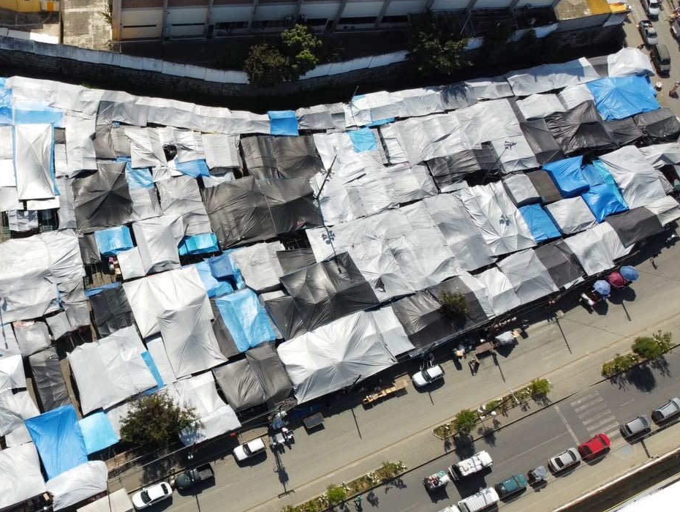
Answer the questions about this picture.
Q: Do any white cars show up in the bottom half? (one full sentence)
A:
Yes, a white car shows up in the bottom half.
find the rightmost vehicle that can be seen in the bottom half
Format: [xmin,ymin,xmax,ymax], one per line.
[646,398,680,424]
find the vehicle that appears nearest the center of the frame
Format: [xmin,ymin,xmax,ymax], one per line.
[410,363,446,389]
